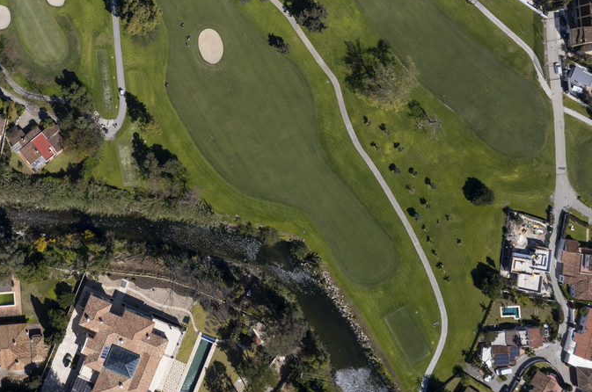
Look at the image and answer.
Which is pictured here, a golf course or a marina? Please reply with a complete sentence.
The area seen from above is a golf course.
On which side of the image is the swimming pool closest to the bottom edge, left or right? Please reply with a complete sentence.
It is on the left.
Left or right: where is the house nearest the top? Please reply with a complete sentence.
The house nearest the top is on the right side of the image.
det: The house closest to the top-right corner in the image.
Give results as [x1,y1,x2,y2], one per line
[563,0,592,46]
